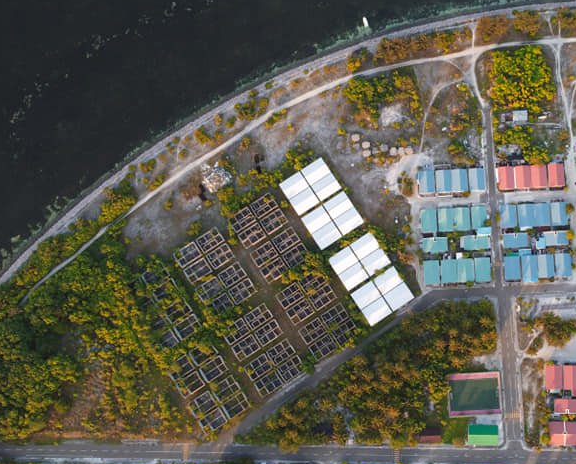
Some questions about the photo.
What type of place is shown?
residential area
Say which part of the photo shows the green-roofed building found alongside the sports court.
bottom right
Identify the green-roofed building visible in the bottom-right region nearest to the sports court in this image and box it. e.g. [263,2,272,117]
[467,424,498,446]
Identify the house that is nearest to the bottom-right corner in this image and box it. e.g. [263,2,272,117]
[549,421,576,446]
